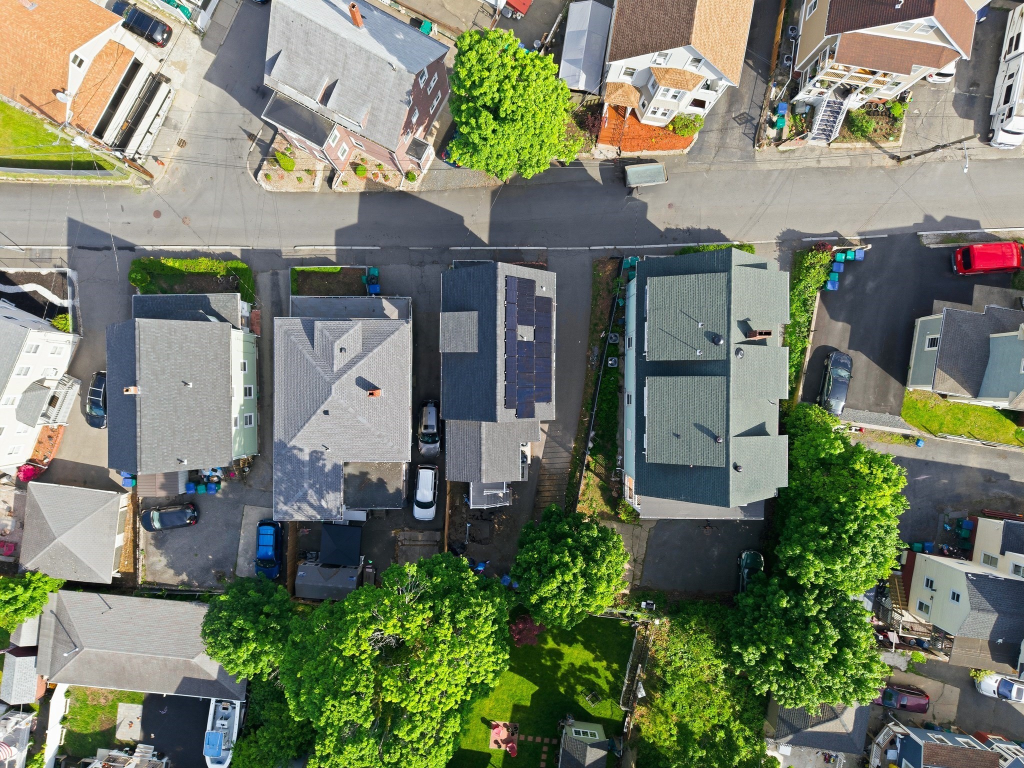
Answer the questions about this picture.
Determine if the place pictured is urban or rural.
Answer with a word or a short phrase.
urban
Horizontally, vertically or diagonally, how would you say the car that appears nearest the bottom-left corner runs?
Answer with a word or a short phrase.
horizontally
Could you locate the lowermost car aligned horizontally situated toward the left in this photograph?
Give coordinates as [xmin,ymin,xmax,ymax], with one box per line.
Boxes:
[143,502,199,533]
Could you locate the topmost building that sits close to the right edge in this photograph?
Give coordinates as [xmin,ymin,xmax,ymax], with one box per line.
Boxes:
[777,0,978,143]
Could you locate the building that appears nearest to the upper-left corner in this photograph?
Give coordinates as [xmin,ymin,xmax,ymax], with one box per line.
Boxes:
[0,0,173,157]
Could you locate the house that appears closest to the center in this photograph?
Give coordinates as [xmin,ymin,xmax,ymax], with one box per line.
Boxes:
[439,260,557,511]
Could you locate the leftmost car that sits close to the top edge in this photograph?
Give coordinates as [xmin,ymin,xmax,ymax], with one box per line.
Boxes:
[116,3,176,46]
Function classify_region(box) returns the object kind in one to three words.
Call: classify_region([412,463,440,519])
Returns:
car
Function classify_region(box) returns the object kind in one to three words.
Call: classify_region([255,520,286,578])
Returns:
car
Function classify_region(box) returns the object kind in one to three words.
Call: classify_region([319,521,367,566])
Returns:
gazebo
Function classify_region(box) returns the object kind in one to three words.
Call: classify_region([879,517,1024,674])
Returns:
house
